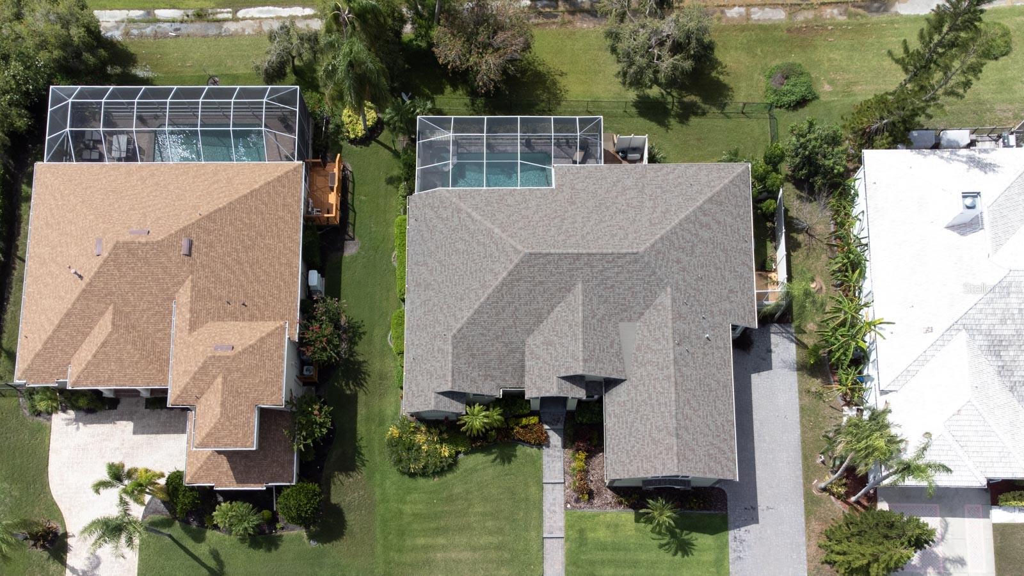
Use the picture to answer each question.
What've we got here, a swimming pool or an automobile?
swimming pool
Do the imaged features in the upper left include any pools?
Yes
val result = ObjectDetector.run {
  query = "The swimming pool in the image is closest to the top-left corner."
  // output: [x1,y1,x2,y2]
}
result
[148,120,267,161]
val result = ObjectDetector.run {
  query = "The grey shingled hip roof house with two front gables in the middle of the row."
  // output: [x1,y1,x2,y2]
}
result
[400,162,761,489]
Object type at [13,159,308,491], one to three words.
house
